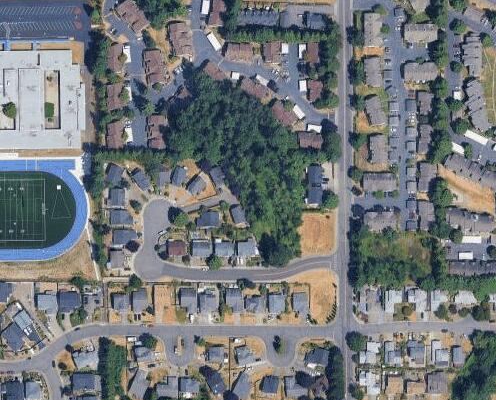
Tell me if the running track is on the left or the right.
left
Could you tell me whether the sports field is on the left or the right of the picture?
left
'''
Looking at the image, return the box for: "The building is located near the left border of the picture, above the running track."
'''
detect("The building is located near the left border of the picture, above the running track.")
[0,40,85,149]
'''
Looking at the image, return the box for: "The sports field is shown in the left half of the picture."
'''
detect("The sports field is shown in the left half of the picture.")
[0,171,76,249]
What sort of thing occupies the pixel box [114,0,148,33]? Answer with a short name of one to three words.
building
